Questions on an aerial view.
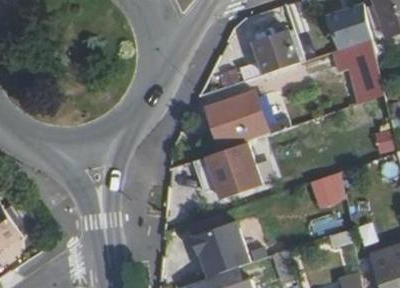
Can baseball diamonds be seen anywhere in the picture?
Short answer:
No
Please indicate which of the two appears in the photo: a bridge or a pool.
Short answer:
pool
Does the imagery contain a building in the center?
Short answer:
Yes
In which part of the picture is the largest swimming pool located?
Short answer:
bottom right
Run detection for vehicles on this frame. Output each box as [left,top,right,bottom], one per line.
[108,169,120,192]
[146,86,162,108]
